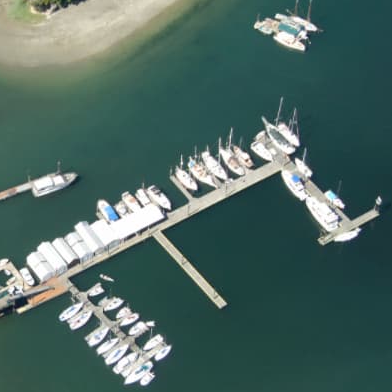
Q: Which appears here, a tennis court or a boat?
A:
boat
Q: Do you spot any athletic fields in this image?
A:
No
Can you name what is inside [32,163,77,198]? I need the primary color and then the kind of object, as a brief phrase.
white boat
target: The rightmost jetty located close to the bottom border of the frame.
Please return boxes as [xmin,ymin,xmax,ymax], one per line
[74,288,167,377]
